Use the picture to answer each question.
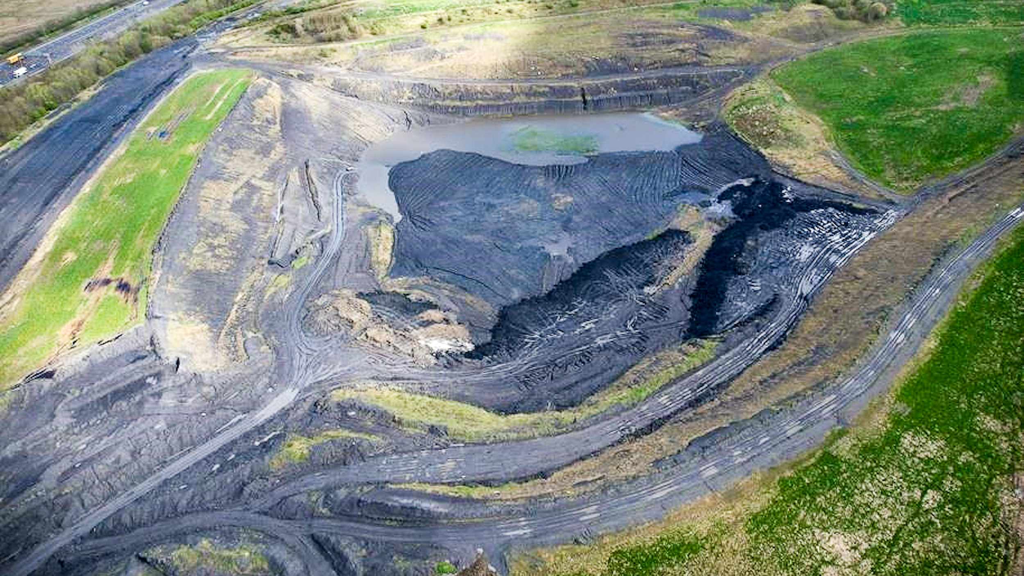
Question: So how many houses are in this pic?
0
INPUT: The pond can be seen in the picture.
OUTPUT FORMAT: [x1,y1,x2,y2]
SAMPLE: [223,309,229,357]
[356,113,701,223]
